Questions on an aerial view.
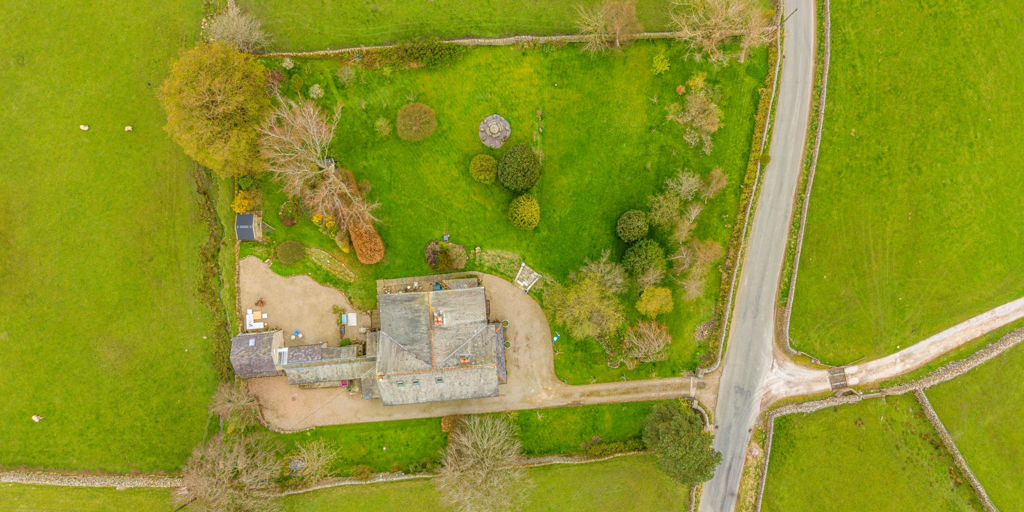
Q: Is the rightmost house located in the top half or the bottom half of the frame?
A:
bottom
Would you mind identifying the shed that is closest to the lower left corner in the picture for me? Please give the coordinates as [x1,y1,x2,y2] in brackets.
[230,331,281,376]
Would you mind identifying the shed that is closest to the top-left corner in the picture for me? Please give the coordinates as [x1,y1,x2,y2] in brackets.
[234,214,259,240]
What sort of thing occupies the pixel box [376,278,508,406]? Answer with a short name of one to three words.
house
